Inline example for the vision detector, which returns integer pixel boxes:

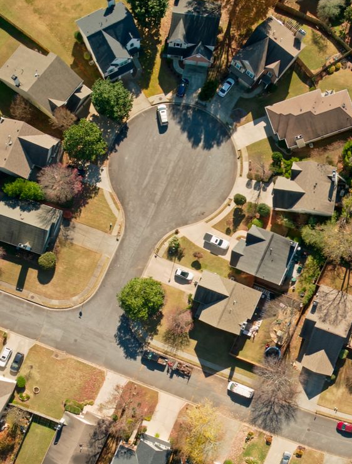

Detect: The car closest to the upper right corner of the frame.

[218,77,233,97]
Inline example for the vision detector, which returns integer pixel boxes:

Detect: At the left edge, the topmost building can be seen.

[0,43,96,124]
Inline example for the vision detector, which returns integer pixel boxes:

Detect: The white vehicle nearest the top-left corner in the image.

[156,104,169,125]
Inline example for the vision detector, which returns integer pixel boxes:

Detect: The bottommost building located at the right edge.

[297,285,352,377]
